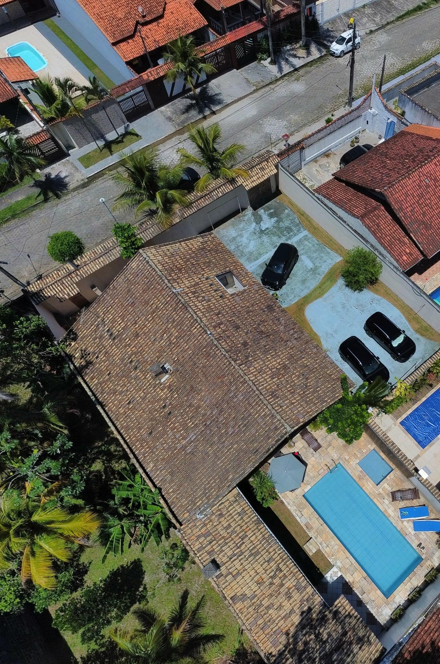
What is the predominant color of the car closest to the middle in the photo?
black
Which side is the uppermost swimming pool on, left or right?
left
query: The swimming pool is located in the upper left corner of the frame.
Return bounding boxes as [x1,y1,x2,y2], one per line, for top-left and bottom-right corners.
[4,39,52,72]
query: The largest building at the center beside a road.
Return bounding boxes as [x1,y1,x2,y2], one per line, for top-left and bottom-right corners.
[65,230,356,523]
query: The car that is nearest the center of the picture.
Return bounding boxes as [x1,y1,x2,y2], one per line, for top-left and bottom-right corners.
[261,236,299,292]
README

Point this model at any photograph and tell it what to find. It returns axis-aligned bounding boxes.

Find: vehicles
[329,148,363,181]
[331,26,364,58]
[337,336,395,391]
[362,312,418,365]
[261,236,299,292]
